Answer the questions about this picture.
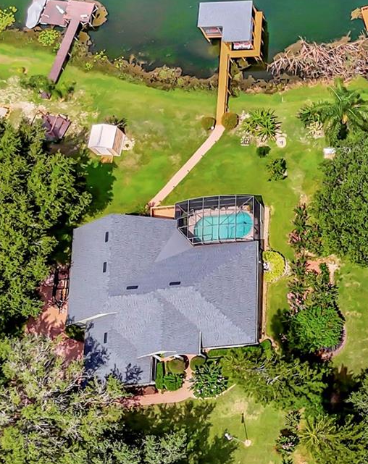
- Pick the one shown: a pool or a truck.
pool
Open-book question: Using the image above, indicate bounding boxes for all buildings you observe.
[86,121,128,169]
[198,0,266,128]
[67,214,263,385]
